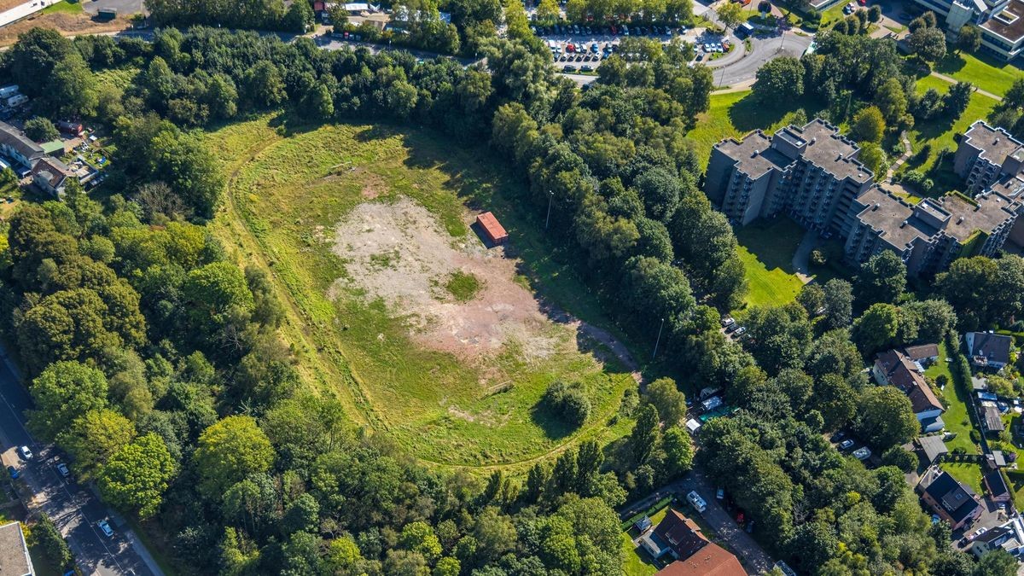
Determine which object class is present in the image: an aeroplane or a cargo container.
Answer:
cargo container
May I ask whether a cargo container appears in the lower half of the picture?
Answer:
No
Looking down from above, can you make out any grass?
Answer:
Yes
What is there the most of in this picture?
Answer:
trees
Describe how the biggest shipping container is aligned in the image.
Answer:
on a diagonal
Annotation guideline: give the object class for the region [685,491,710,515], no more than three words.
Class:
vehicle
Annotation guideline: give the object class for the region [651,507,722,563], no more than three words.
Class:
house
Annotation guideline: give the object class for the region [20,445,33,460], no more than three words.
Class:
vehicle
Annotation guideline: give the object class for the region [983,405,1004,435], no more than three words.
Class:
shed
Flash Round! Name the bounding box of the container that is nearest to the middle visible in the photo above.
[477,212,508,245]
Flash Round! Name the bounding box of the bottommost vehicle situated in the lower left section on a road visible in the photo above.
[98,520,112,537]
